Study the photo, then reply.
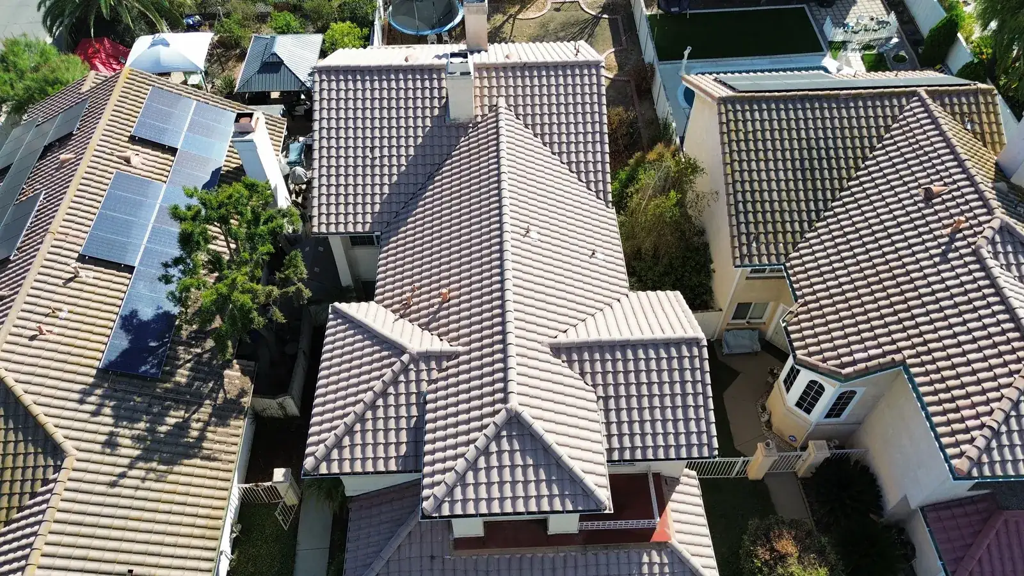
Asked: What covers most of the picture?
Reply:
buildings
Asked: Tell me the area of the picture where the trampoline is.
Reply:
top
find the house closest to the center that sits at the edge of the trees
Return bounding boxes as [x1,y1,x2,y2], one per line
[301,0,719,576]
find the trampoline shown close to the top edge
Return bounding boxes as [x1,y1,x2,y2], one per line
[389,0,465,43]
